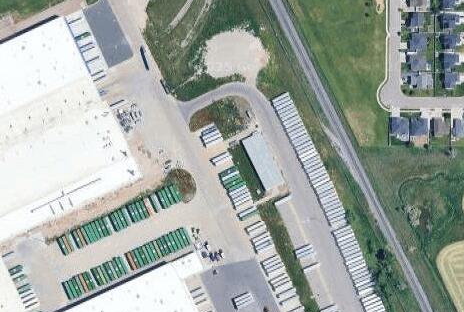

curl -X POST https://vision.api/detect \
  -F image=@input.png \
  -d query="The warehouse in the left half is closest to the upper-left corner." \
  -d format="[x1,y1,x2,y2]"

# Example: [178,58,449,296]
[0,16,142,243]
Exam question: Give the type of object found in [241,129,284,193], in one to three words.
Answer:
shed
